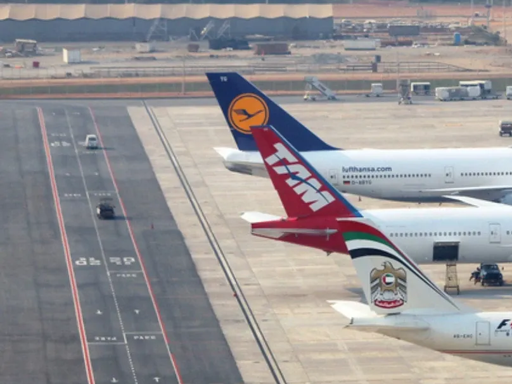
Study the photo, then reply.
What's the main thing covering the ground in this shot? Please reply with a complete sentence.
For the most part, this view shows paved ground.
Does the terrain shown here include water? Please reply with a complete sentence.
No, water can't be seen anywhere here.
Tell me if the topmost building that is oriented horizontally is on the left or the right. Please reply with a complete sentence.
The topmost building that is oriented horizontally is on the left side of the image.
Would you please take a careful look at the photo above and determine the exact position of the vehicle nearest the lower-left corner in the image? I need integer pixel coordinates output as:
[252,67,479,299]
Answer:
[96,199,116,218]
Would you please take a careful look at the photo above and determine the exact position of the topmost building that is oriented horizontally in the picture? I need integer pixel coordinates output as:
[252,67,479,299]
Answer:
[0,0,334,45]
